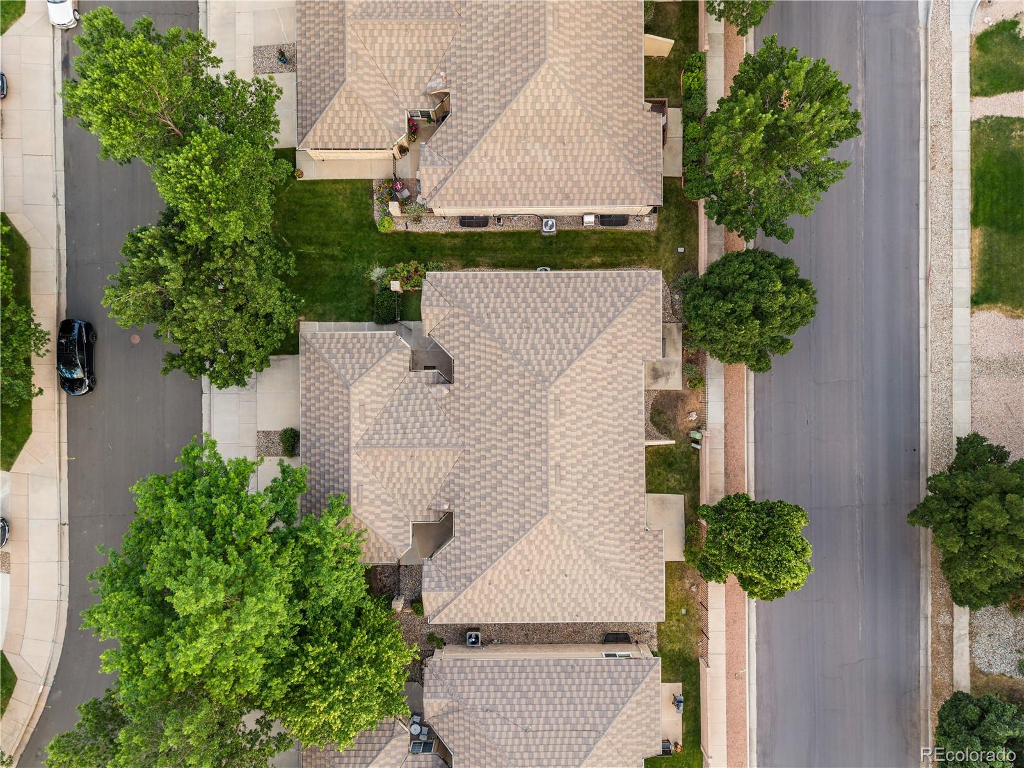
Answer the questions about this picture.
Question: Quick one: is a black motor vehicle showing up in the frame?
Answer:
Yes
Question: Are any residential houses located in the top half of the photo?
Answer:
Yes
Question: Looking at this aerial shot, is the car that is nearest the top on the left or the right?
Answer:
left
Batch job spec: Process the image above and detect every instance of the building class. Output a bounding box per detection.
[299,271,666,624]
[299,643,663,768]
[300,0,666,216]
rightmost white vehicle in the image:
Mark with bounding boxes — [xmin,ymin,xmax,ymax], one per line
[40,0,79,23]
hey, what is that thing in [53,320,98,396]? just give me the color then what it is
black car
